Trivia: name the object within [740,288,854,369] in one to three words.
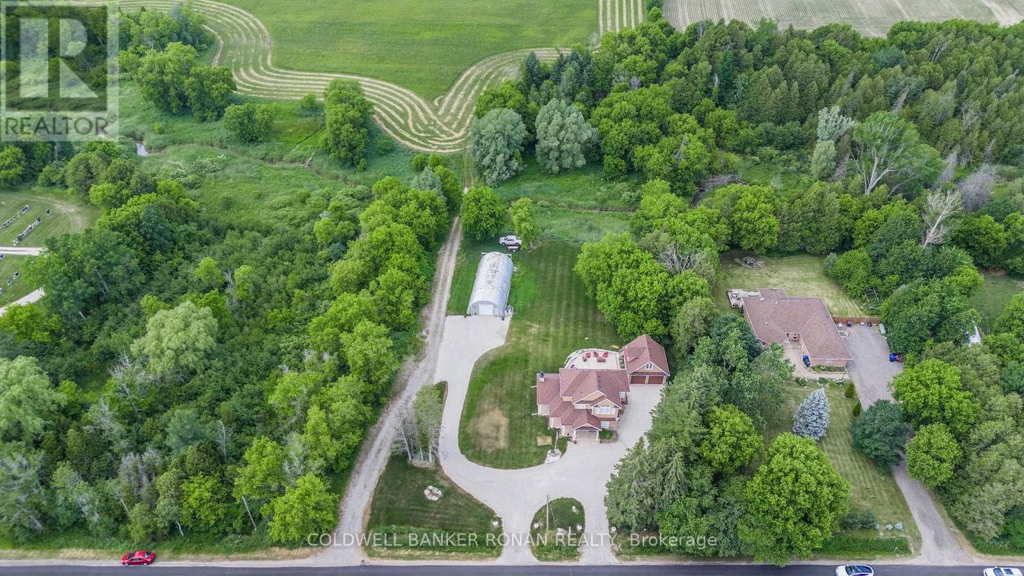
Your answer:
house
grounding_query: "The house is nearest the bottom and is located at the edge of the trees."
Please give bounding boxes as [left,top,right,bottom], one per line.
[531,366,630,445]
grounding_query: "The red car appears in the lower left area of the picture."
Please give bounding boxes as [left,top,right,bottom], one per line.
[117,549,156,568]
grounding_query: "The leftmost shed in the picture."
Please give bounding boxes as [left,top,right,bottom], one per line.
[466,251,514,315]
